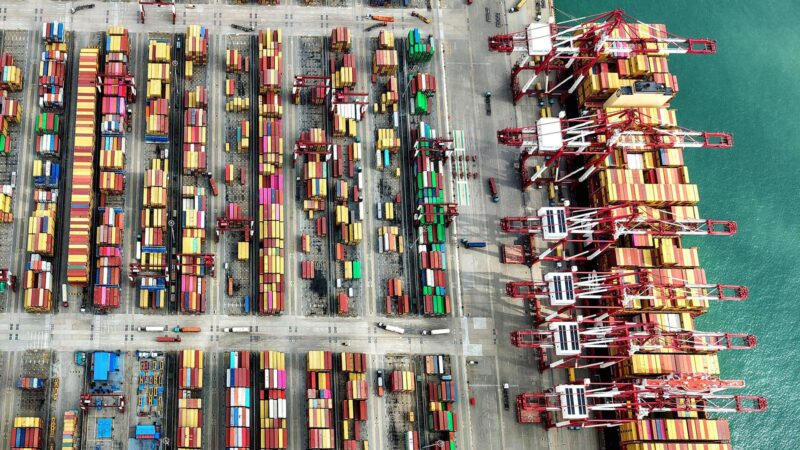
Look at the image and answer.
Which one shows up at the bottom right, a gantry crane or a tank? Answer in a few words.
gantry crane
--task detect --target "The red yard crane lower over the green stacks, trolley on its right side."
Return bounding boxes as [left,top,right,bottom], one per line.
[412,207,459,233]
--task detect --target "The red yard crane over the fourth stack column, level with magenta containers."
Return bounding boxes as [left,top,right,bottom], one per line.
[95,80,136,109]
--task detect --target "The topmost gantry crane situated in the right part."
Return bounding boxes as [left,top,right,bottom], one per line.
[485,11,720,108]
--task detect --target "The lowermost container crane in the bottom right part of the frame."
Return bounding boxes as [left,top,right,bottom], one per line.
[513,371,773,441]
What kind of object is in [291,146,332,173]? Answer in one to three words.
crane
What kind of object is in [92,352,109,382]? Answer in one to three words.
building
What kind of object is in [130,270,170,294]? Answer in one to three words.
crane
